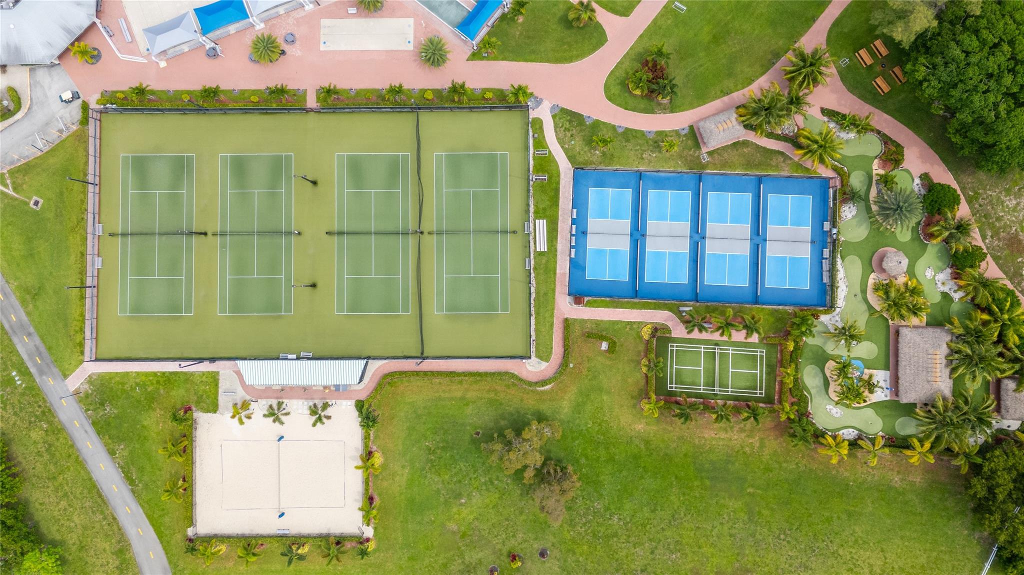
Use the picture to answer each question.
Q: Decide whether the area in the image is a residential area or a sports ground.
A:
sports ground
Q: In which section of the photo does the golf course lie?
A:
right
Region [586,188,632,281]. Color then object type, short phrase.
blue sports court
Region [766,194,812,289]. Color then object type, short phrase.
blue sports court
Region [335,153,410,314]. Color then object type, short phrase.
green tennis court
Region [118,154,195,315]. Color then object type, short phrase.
green tennis court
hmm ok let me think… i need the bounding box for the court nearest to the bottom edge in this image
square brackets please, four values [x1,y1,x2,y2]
[221,440,345,510]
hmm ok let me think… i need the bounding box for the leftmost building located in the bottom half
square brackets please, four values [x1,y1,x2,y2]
[235,359,369,385]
